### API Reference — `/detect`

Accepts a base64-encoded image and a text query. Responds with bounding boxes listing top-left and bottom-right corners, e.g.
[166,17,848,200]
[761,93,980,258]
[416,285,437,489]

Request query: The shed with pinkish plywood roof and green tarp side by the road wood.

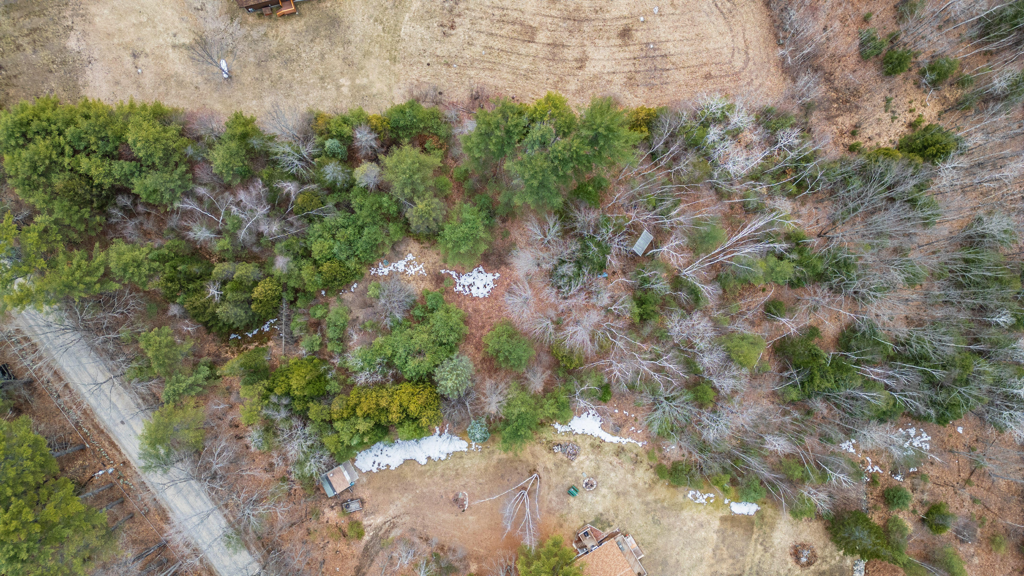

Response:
[321,458,361,499]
